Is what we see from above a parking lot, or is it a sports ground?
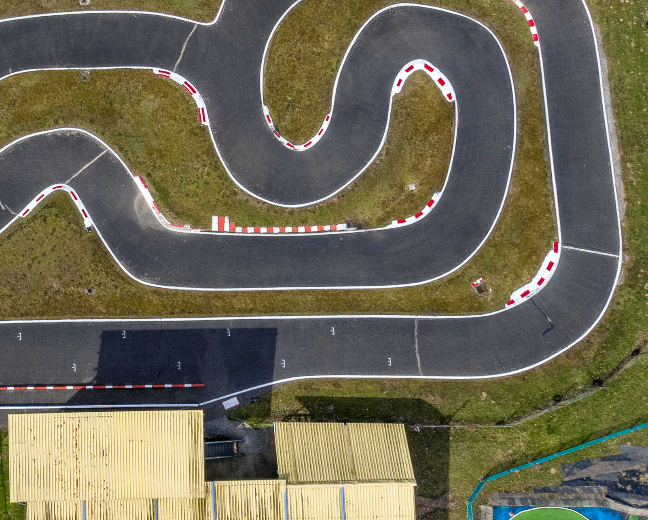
sports ground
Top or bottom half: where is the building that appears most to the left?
bottom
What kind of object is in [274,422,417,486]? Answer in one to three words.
shed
